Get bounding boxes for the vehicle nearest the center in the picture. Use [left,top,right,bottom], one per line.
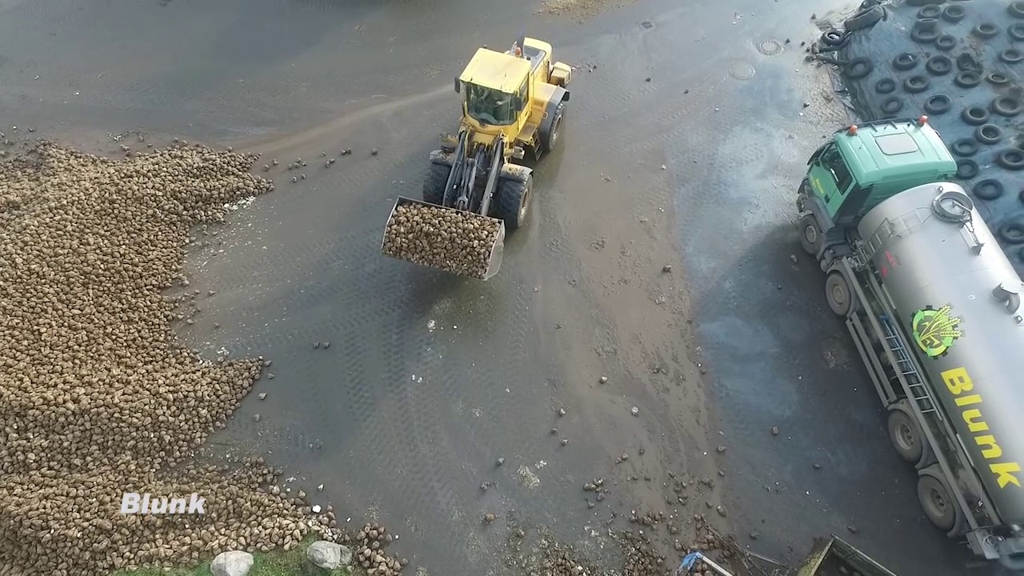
[379,30,575,285]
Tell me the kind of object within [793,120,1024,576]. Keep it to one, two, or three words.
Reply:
truck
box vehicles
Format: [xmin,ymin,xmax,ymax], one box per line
[793,120,1024,576]
[379,30,575,285]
